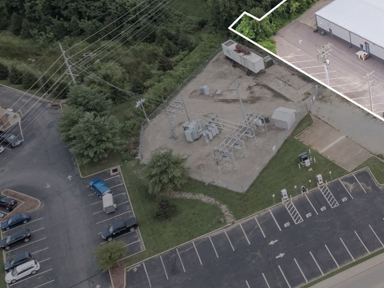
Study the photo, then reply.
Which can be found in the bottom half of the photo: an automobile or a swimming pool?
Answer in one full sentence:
What appears in the bottom half of the photo is an automobile.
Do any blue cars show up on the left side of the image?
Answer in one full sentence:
Yes, you'll find a blue car on the left side of the image.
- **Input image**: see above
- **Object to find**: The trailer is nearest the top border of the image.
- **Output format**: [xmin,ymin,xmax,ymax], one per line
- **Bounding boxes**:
[222,42,265,74]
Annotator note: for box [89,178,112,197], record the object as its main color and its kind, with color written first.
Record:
blue car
